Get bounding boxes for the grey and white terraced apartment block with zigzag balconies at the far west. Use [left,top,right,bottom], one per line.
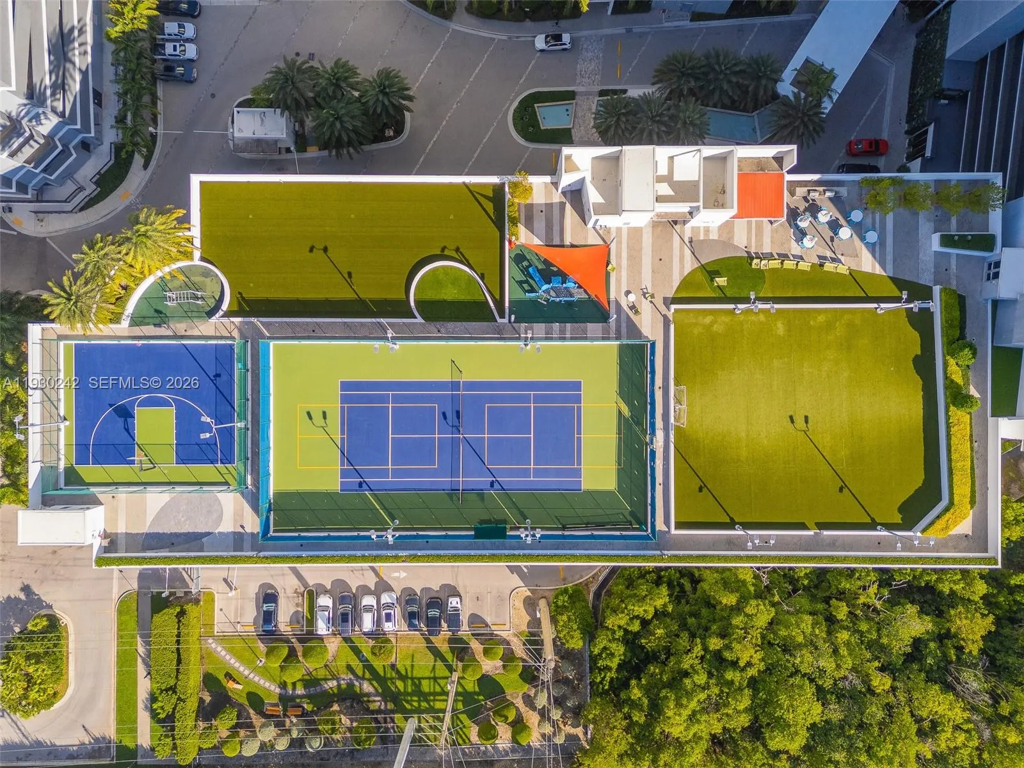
[0,0,100,198]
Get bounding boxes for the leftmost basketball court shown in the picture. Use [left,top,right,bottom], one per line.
[59,340,241,489]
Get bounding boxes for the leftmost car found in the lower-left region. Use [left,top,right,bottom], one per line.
[260,590,280,630]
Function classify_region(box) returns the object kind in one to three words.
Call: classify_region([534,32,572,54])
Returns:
car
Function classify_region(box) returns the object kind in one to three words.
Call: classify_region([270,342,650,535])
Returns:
tennis court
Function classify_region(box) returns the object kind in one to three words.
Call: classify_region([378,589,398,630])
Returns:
car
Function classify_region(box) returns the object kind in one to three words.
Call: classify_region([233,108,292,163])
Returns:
building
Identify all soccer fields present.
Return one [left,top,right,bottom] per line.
[669,287,947,534]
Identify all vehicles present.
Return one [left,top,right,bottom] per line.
[445,592,464,632]
[424,595,443,635]
[534,32,572,54]
[846,136,886,157]
[315,592,334,633]
[335,592,355,632]
[403,591,422,630]
[154,40,201,64]
[378,589,398,630]
[836,159,878,174]
[359,591,378,632]
[153,19,199,43]
[158,62,197,84]
[260,590,280,630]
